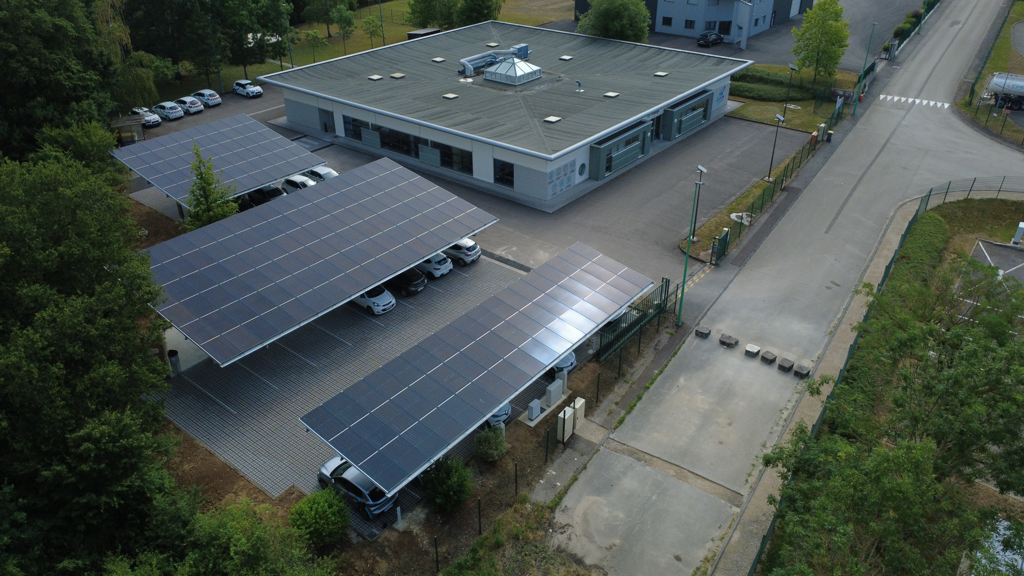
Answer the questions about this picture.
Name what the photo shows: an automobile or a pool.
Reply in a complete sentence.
Looking from above, you can make out an automobile.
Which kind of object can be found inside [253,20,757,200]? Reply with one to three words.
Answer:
building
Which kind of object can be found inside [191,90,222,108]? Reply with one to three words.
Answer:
car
